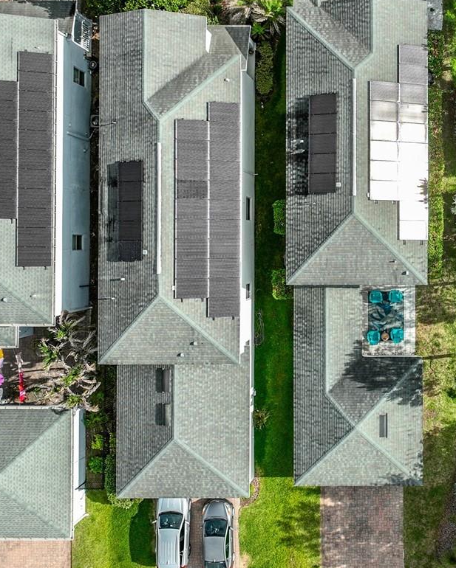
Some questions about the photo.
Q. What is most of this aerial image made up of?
buildings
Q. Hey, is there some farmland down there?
No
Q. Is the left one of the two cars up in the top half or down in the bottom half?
bottom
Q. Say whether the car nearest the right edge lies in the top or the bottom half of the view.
bottom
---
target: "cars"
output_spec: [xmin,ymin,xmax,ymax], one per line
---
[154,498,194,567]
[197,498,237,568]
